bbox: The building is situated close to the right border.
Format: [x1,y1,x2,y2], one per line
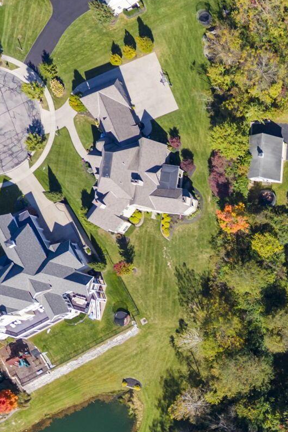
[249,130,285,182]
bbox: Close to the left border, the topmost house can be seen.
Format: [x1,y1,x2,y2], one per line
[0,211,113,339]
